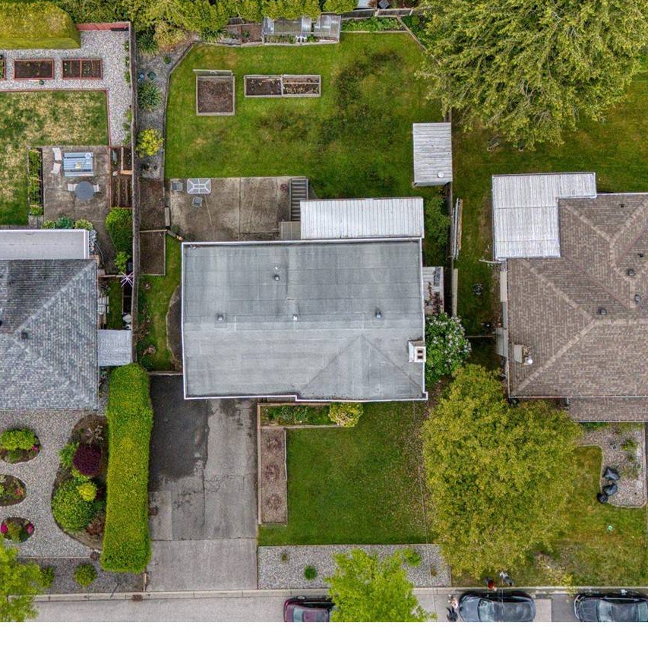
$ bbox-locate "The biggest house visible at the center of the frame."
[183,240,430,404]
